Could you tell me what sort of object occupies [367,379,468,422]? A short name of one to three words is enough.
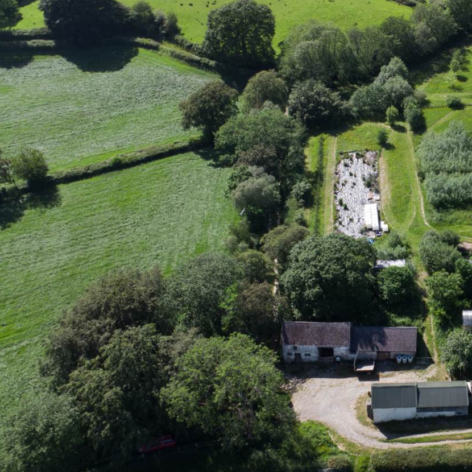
shed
